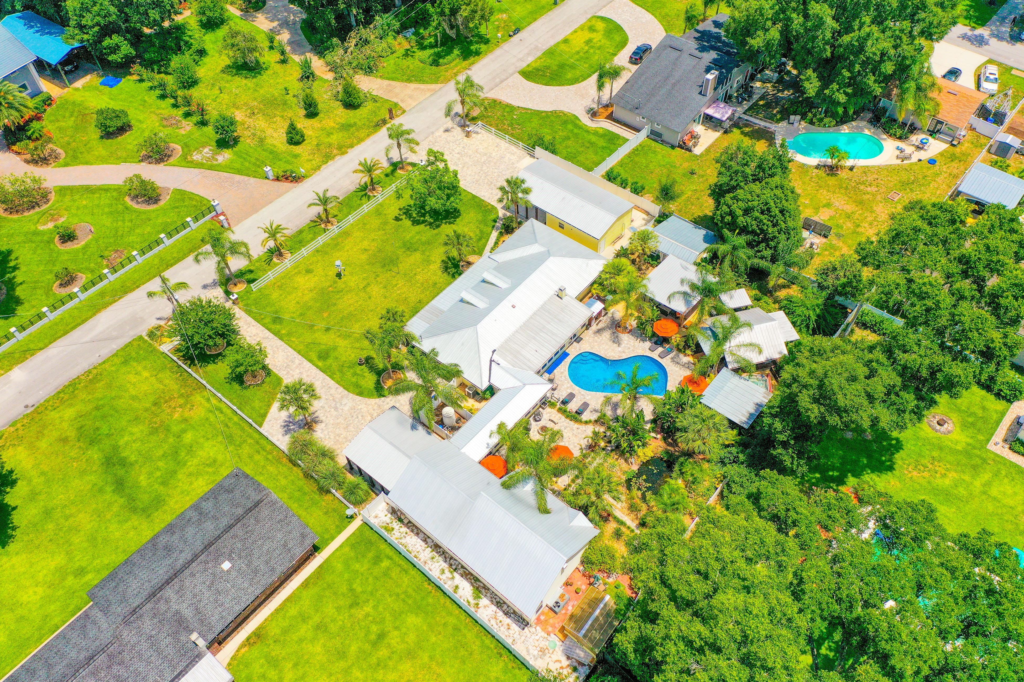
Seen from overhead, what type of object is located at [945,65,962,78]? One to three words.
vehicle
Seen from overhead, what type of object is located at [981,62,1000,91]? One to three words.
car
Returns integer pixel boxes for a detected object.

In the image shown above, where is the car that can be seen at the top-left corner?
[58,55,76,76]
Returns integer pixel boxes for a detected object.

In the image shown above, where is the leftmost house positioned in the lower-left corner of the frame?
[3,466,320,682]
